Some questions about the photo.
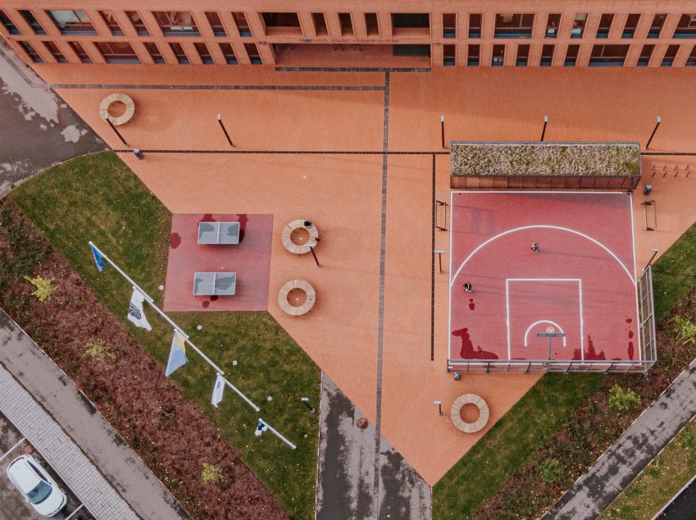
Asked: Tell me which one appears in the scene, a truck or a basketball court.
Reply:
basketball court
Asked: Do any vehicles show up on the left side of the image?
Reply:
Yes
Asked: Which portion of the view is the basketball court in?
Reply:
right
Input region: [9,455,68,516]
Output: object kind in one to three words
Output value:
car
